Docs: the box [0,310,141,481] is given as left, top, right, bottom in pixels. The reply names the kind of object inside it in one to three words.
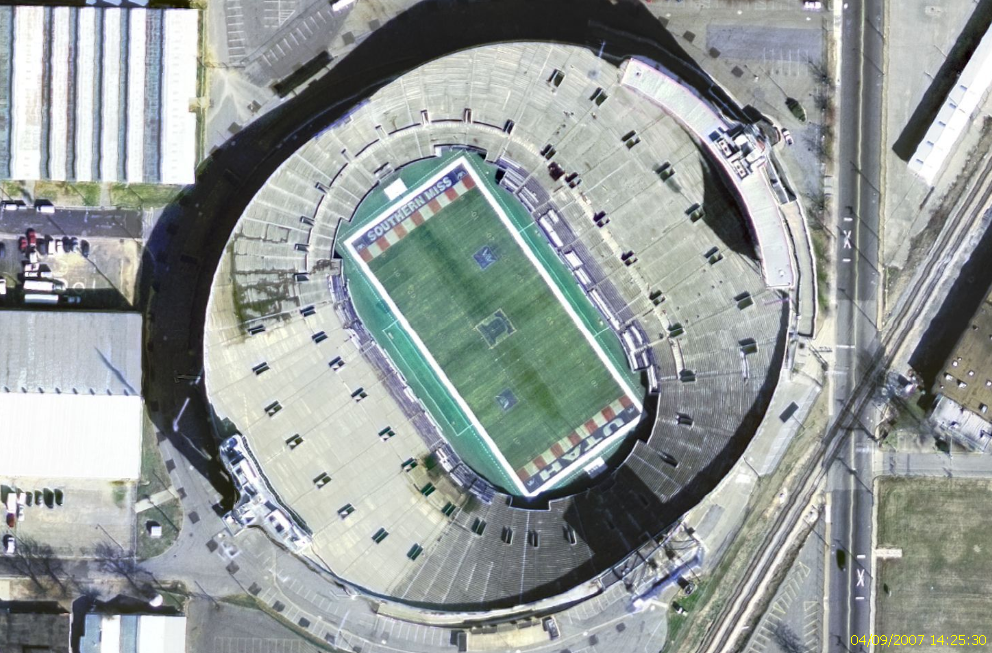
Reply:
warehouse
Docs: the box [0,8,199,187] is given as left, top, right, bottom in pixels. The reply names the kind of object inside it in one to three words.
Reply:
building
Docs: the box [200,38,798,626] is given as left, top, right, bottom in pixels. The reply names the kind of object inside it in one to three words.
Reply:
stadium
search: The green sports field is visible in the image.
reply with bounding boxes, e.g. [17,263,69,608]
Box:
[333,146,658,510]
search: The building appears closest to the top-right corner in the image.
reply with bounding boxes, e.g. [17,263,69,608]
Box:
[908,24,992,189]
